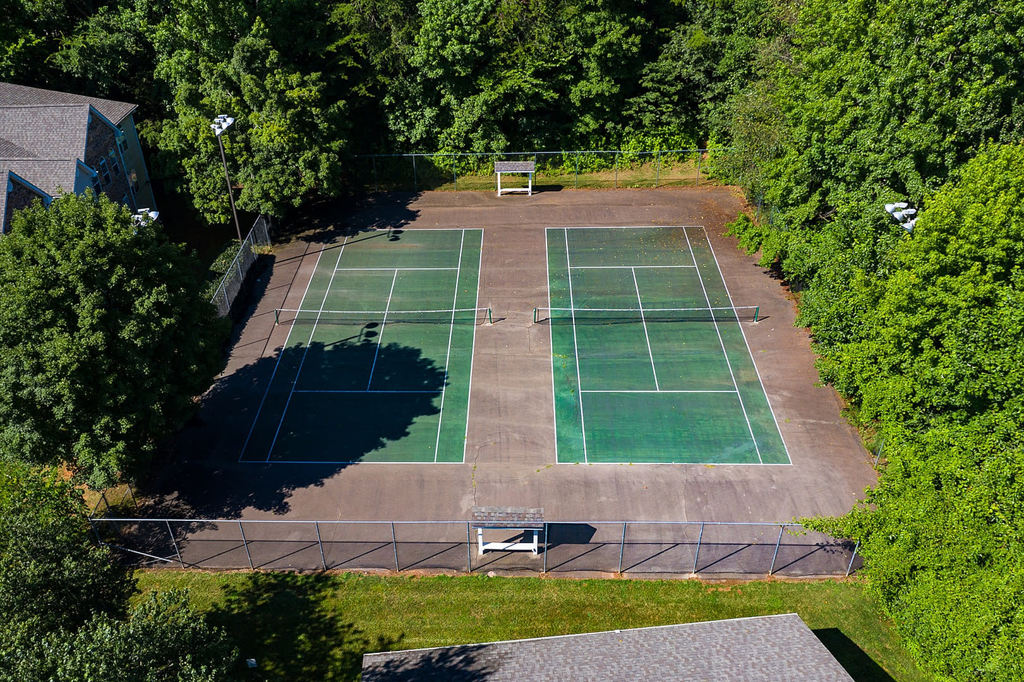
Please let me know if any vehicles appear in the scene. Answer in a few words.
No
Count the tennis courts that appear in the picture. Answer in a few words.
2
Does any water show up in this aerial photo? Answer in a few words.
No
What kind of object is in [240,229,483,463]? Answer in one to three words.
tennis court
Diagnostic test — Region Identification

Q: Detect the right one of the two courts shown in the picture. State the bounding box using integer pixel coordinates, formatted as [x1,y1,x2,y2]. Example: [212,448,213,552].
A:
[545,226,791,464]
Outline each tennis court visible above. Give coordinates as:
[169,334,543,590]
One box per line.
[240,229,483,463]
[545,226,791,464]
